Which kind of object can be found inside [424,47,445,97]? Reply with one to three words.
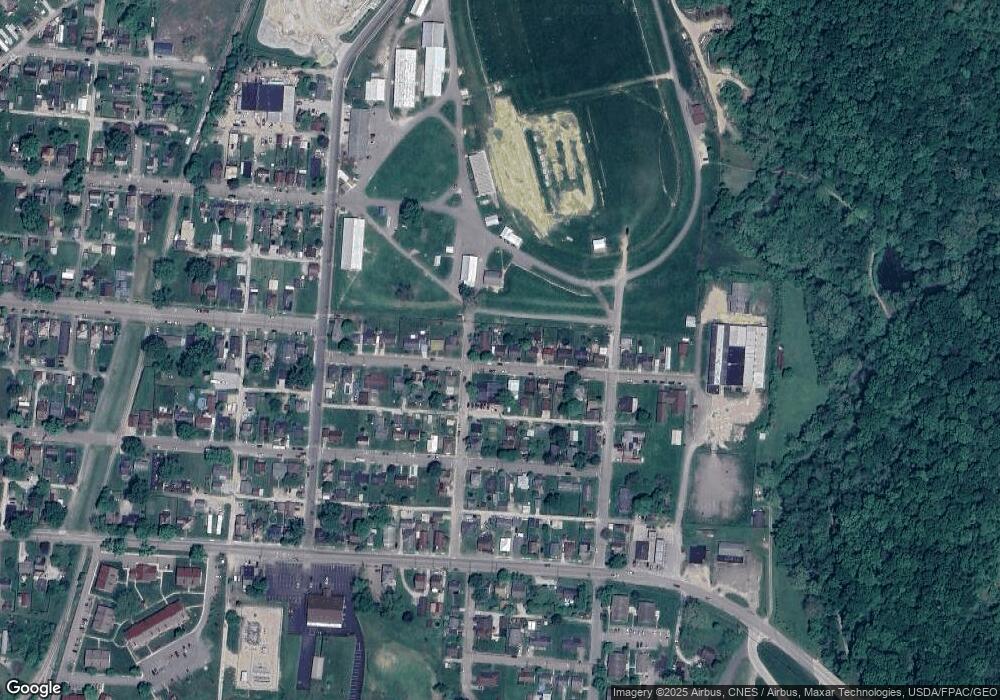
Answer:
barn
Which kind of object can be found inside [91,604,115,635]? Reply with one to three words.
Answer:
building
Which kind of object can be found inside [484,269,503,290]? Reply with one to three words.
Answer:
house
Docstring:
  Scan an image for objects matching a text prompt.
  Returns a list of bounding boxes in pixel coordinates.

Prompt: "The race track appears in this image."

[601,0,693,272]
